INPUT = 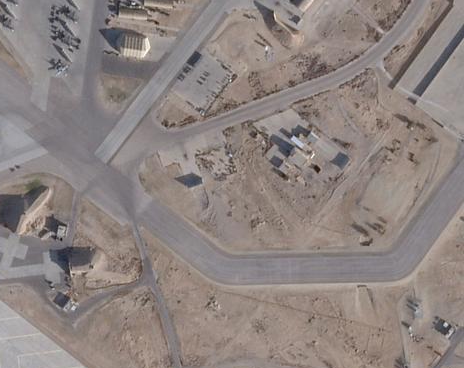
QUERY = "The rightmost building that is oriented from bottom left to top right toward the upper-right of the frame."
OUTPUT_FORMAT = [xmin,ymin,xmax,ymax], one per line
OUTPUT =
[395,0,464,96]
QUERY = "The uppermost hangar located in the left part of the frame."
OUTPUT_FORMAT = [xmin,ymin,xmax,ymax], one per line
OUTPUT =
[116,31,149,57]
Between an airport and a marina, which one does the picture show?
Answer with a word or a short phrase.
airport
